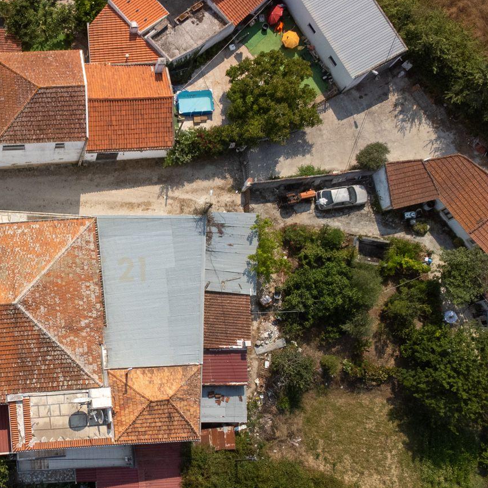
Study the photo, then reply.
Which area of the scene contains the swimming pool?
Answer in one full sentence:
You can find the swimming pool in the top area of the picture.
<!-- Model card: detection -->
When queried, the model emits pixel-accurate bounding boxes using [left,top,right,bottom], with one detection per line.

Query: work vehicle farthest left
[279,188,316,209]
